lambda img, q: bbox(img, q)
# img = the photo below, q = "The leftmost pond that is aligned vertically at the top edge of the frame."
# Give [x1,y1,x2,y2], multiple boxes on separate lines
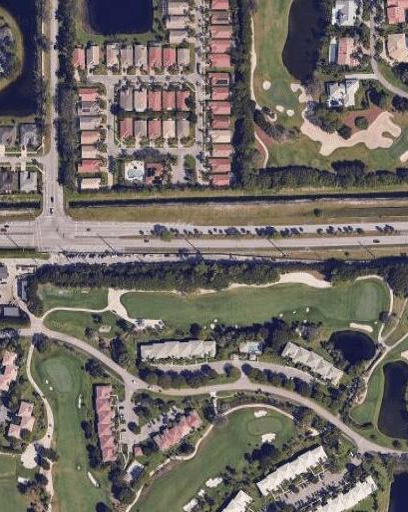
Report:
[282,0,333,86]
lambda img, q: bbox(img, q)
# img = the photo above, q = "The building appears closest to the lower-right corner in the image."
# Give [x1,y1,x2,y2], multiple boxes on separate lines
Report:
[309,479,378,512]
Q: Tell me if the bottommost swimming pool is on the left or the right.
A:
left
